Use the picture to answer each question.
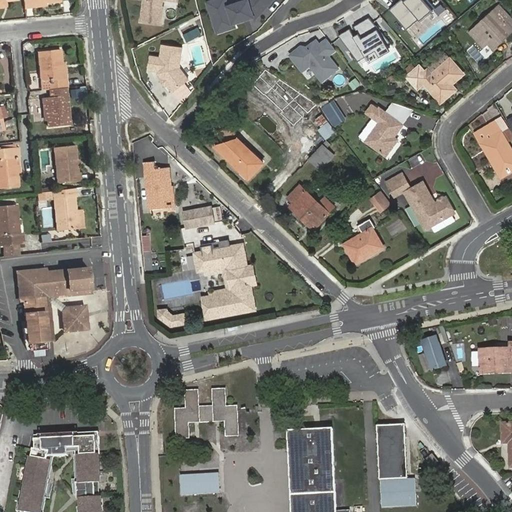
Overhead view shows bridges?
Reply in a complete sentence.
No, the picture doesn't show any bridge.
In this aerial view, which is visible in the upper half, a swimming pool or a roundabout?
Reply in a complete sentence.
What appears in the upper half is a swimming pool.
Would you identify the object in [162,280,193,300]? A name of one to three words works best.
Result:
swimming pool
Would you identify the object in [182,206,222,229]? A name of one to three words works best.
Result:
house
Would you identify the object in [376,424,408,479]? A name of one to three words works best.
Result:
building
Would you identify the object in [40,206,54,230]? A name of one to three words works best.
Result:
swimming pool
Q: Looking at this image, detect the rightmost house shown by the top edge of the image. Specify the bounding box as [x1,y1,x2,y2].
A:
[469,2,512,52]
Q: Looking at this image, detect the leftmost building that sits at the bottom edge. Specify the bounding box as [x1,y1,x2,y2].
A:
[18,456,49,512]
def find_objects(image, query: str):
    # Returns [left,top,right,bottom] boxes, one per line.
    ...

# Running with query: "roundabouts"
[100,336,162,399]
